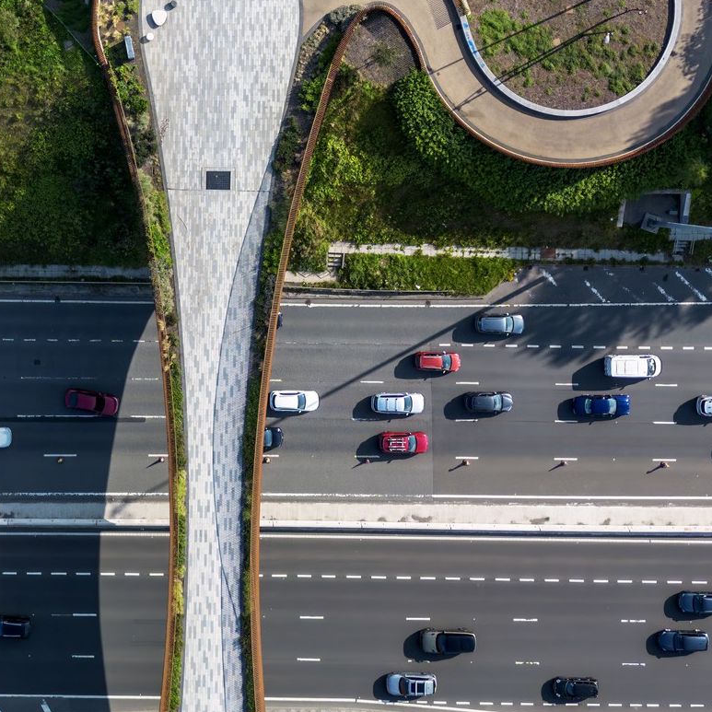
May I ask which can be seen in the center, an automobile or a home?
automobile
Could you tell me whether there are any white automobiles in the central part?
Yes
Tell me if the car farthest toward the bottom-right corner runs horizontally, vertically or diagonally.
horizontally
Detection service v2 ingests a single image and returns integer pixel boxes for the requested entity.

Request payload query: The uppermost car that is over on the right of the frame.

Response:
[474,312,523,336]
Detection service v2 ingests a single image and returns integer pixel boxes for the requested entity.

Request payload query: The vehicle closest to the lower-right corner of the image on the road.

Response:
[655,628,709,654]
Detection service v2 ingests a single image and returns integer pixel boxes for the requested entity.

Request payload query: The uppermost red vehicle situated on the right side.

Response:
[414,350,460,376]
